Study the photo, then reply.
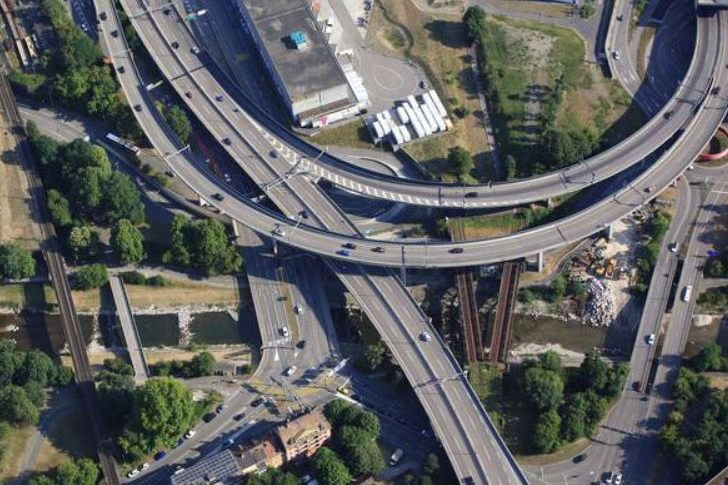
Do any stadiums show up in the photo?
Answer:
No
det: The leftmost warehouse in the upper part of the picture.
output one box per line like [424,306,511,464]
[229,0,371,129]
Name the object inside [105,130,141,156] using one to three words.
bus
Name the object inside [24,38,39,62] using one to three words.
rail car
